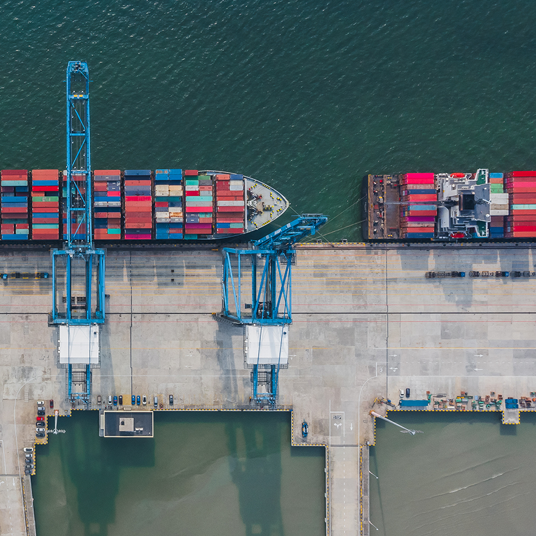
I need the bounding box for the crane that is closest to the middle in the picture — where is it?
[215,216,328,405]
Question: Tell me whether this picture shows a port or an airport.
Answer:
port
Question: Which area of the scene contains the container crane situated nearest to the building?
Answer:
left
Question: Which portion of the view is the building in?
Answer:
bottom left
